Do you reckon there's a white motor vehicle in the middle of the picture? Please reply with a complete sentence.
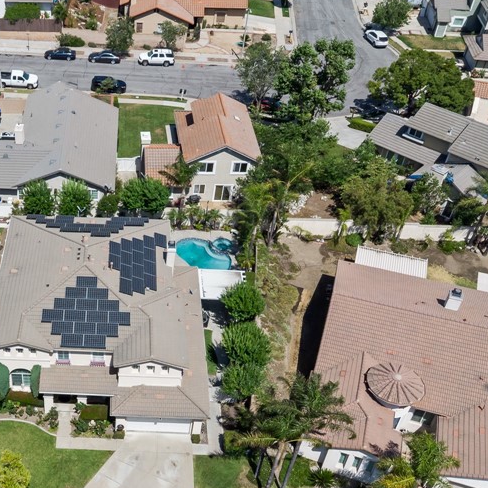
No, no white motor vehicle can be made out in the middle of the picture.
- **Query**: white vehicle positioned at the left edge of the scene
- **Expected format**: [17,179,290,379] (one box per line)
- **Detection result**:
[0,70,39,89]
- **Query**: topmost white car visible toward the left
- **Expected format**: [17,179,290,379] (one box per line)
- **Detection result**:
[138,49,175,67]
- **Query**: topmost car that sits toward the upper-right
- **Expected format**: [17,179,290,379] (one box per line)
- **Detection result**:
[362,31,390,48]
